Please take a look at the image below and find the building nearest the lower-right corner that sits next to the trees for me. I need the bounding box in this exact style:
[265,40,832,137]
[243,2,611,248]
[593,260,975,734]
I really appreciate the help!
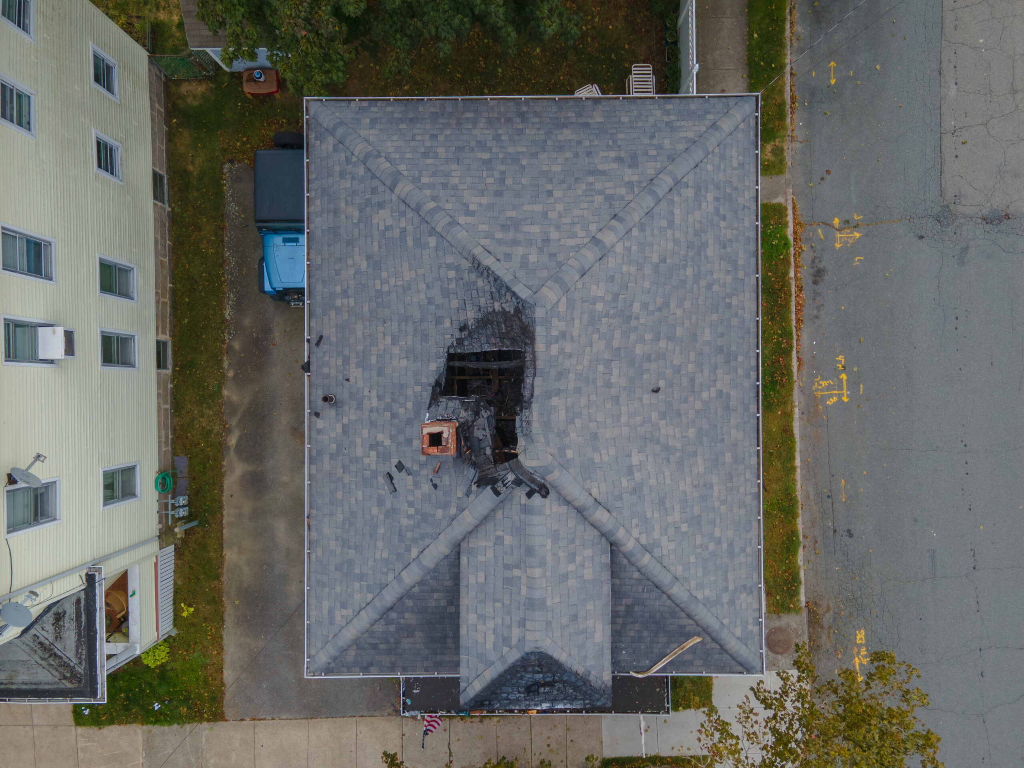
[304,95,762,715]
